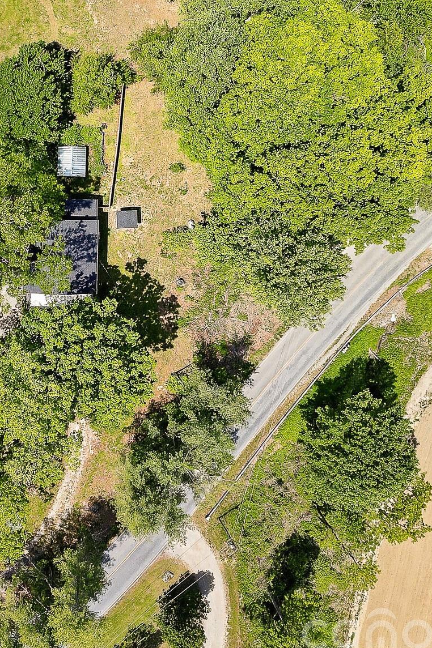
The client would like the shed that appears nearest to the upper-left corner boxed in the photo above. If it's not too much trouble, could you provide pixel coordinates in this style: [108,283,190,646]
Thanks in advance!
[57,145,86,177]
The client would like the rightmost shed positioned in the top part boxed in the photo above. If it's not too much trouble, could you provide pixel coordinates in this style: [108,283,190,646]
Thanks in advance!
[117,211,137,229]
